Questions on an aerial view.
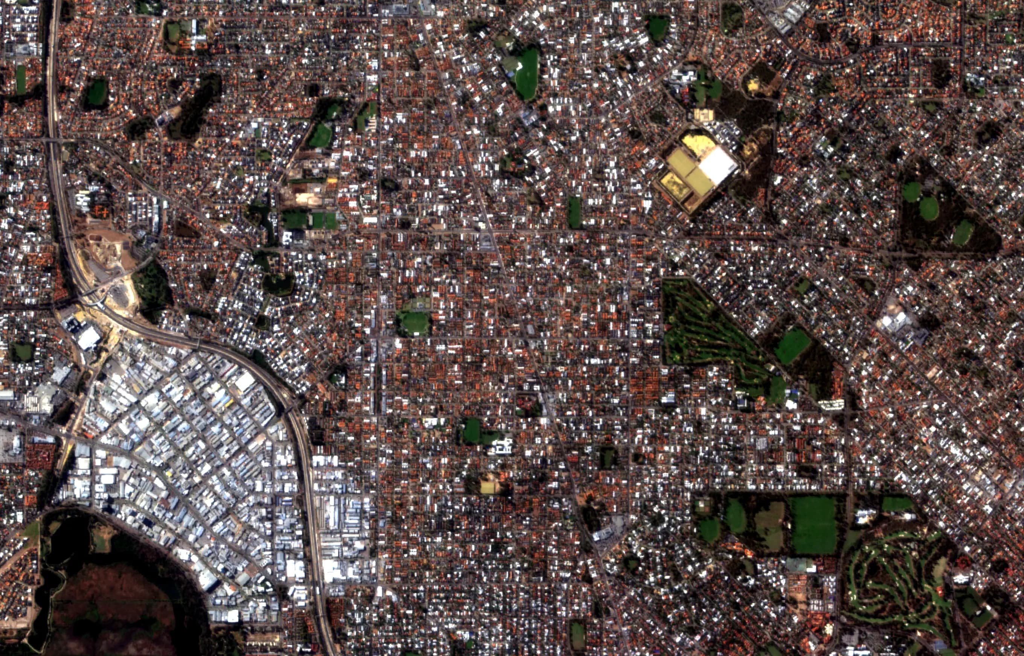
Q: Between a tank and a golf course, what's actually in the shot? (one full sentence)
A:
There is a golf course in the scene.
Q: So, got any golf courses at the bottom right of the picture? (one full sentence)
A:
Yes, a golf course appears at the bottom right of the picture.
